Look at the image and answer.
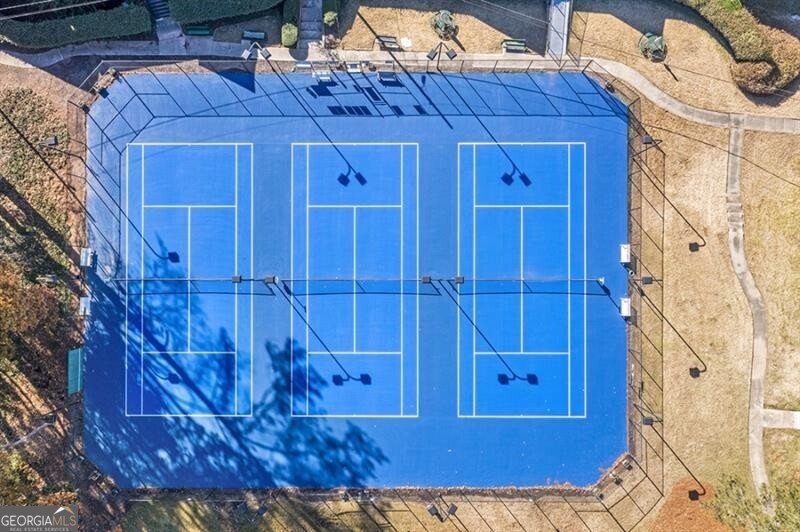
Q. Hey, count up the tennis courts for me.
3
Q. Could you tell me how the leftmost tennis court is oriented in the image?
vertically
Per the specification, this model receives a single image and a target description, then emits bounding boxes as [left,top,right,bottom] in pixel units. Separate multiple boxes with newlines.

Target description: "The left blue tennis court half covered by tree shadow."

[125,144,252,416]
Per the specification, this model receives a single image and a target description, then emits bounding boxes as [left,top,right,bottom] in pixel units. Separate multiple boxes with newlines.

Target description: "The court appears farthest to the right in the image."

[458,142,586,418]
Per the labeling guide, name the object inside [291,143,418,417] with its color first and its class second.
blue tennis court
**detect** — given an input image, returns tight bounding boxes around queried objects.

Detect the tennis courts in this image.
[291,143,418,417]
[125,144,252,416]
[458,142,586,418]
